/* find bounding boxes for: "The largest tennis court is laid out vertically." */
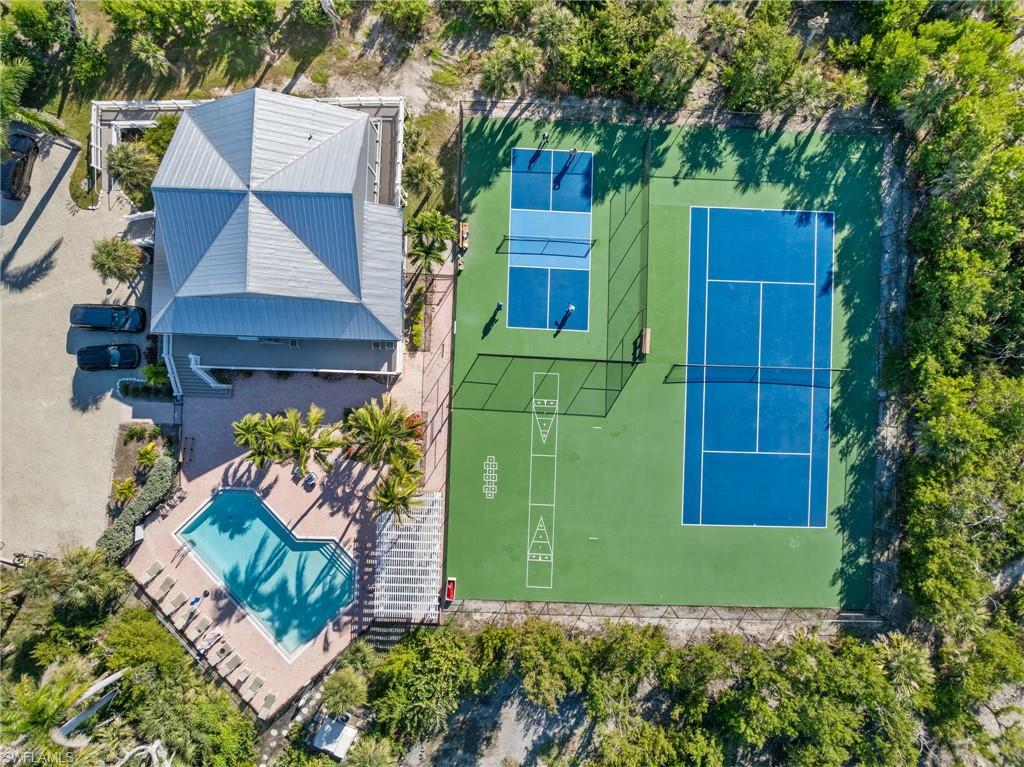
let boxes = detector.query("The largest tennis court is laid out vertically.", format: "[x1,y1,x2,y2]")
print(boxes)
[682,206,834,528]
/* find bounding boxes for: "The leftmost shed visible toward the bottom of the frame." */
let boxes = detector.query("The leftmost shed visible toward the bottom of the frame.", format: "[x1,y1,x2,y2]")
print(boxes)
[314,707,362,759]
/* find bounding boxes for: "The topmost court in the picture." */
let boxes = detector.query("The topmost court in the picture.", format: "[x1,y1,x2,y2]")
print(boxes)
[507,148,593,331]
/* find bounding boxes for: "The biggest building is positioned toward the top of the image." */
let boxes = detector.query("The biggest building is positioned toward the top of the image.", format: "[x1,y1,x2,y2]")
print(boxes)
[123,86,405,399]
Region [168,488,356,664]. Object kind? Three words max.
swimming pool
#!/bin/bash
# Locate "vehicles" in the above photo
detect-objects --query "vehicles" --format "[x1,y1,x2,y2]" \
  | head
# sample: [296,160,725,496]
[68,301,150,336]
[0,133,47,203]
[77,341,146,374]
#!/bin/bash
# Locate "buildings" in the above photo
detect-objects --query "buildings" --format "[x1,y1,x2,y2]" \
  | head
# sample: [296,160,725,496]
[123,86,405,399]
[314,707,362,759]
